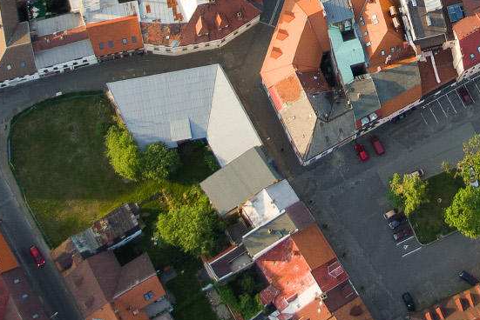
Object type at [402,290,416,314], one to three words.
vehicle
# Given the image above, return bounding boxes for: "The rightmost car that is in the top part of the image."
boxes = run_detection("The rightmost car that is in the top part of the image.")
[457,86,473,108]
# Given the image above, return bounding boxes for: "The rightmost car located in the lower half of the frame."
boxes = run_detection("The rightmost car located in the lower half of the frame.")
[457,270,479,287]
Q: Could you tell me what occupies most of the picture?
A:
buildings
